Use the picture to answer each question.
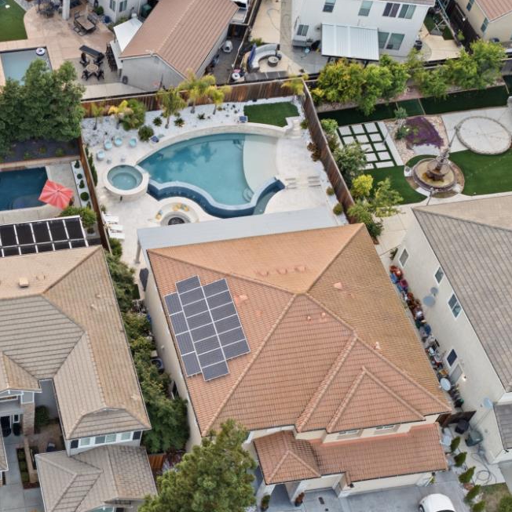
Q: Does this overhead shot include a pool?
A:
Yes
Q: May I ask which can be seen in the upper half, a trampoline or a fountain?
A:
fountain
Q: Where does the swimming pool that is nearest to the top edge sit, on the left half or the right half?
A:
left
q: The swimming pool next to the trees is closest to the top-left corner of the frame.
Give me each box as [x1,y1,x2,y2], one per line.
[1,47,51,82]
